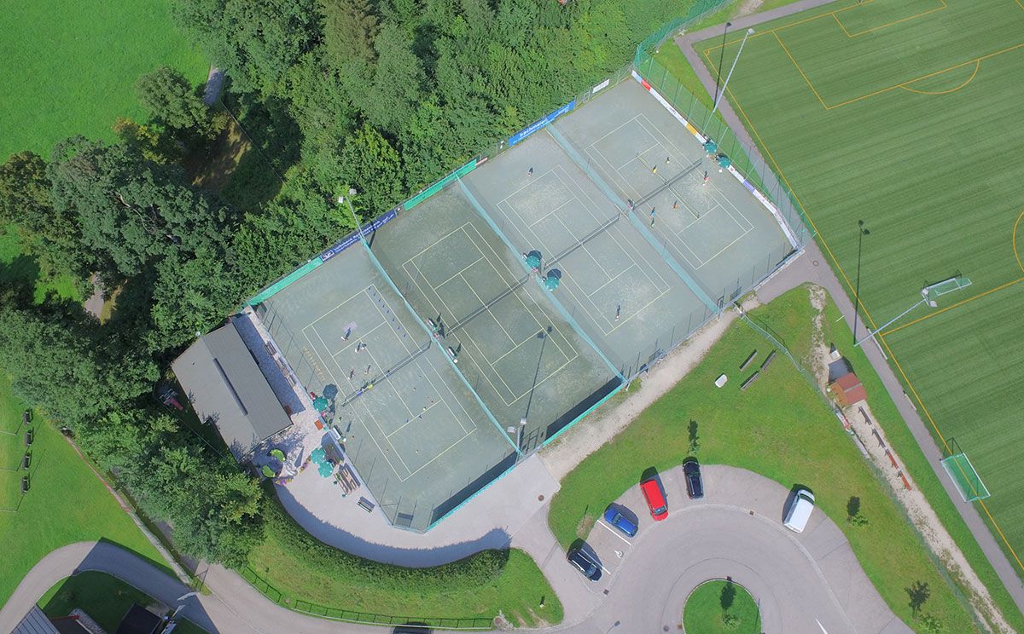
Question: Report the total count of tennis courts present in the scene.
4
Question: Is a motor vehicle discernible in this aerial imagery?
Yes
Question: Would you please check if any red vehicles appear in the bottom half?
Yes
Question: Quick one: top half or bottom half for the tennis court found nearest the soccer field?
top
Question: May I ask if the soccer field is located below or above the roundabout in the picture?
above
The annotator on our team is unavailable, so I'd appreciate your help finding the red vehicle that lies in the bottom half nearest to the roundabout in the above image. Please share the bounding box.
[637,477,670,524]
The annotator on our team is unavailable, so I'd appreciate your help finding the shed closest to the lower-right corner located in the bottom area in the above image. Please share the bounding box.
[824,373,867,408]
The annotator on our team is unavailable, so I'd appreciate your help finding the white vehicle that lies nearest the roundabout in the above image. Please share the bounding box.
[781,490,816,537]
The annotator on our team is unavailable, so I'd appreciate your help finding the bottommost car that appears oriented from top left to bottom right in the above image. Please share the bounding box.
[566,543,606,582]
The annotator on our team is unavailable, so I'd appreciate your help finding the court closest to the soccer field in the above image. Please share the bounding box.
[553,75,798,308]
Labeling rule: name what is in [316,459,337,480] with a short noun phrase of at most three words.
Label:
umbrella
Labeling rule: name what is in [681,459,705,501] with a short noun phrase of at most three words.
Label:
car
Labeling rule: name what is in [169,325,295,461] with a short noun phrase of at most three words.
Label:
building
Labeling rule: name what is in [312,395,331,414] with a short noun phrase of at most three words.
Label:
umbrella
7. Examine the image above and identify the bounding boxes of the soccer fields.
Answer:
[685,0,1024,584]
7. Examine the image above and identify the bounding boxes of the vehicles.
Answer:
[637,477,670,524]
[681,459,705,501]
[781,490,816,537]
[566,543,606,582]
[602,505,639,538]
